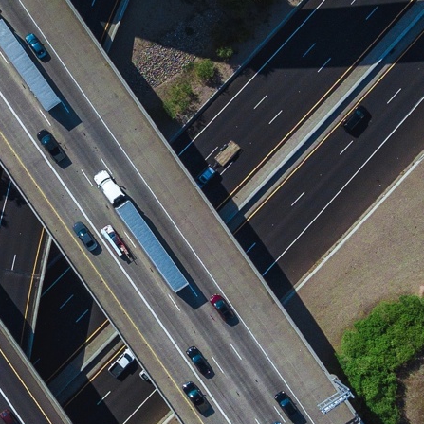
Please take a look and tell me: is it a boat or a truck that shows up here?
truck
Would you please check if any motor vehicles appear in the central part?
Yes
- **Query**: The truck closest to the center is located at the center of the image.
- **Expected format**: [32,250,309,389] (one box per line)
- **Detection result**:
[194,162,220,191]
